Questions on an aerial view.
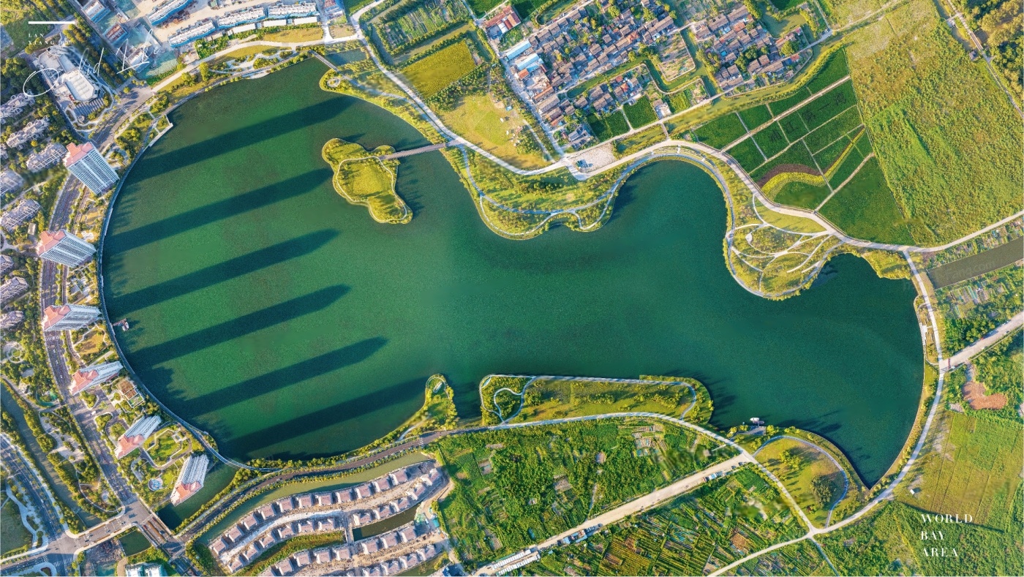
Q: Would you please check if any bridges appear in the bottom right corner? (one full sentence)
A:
No, there's no bridge to be seen in the bottom right corner.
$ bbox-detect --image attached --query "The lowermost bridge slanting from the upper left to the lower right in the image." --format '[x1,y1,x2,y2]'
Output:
[140,509,183,553]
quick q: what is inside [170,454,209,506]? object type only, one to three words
building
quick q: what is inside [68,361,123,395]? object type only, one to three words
building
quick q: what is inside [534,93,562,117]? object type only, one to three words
house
